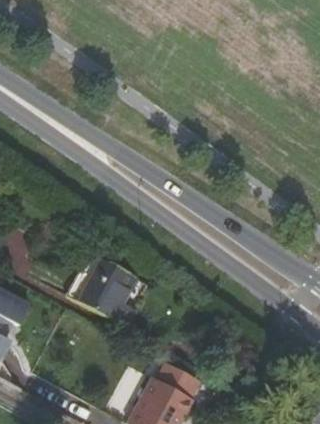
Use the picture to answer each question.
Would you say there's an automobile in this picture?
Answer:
Yes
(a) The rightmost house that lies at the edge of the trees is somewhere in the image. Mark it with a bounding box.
[125,362,202,424]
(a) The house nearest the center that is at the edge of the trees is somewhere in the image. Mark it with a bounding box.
[68,256,136,316]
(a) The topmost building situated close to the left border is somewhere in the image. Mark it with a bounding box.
[0,284,32,327]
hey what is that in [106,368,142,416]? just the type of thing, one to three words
shed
